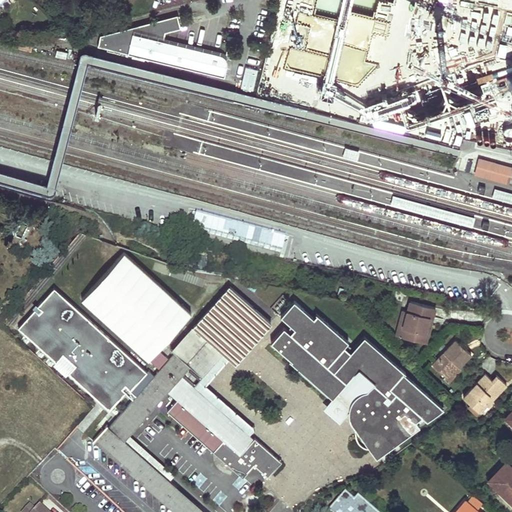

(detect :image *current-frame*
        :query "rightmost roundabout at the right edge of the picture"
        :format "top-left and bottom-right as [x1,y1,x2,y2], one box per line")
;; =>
[484,307,512,361]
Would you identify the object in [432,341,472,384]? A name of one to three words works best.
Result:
house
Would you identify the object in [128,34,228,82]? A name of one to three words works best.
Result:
building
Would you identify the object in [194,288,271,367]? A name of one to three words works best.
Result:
building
